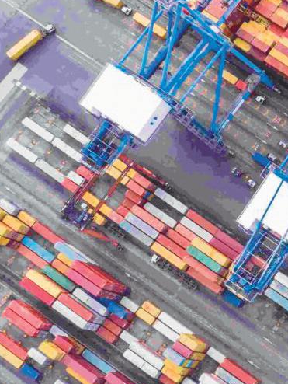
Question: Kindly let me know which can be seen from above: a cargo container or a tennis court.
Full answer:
Looking from above, you can make out a cargo container.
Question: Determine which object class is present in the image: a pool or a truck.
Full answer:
I can see a truck in this picture.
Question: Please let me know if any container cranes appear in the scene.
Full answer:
Yes, this view includes a container crane.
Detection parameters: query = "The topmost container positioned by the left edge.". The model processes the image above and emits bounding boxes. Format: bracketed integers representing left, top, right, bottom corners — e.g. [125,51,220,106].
[11,30,46,65]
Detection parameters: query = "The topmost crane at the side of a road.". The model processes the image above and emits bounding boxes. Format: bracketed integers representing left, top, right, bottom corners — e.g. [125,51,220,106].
[58,0,281,190]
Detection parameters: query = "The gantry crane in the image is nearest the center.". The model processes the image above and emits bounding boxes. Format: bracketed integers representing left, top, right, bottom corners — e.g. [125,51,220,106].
[54,147,167,242]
